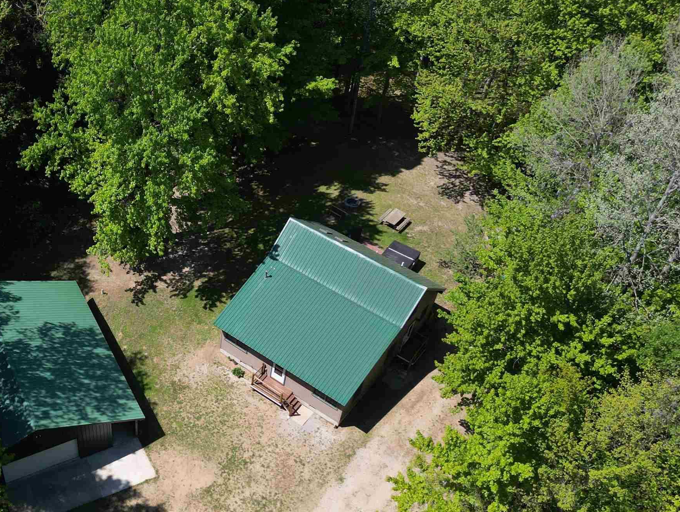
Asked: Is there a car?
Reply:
No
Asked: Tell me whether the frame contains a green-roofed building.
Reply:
Yes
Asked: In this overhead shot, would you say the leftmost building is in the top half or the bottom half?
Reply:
bottom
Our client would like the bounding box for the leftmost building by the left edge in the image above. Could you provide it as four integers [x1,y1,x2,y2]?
[0,279,146,486]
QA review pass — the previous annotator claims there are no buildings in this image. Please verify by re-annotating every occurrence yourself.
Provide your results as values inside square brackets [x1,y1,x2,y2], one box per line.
[213,216,445,427]
[0,279,146,486]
